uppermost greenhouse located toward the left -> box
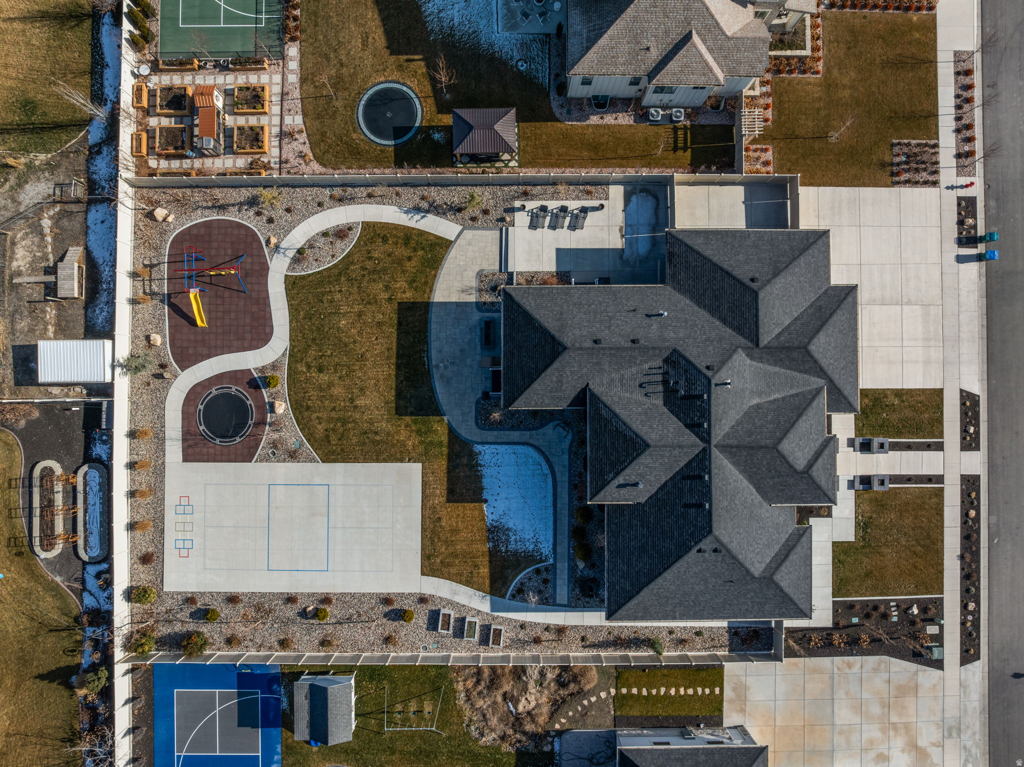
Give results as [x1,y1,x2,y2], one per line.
[194,86,223,153]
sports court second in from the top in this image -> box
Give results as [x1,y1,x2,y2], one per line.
[163,463,421,593]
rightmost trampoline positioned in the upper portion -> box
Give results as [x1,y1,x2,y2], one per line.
[357,82,421,146]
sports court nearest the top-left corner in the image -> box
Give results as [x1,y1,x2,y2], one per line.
[159,0,284,57]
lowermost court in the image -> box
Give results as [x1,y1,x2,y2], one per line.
[153,663,281,767]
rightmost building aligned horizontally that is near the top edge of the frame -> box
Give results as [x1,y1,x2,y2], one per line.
[564,0,816,106]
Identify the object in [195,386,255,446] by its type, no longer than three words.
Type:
trampoline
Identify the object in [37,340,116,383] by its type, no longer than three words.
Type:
shed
